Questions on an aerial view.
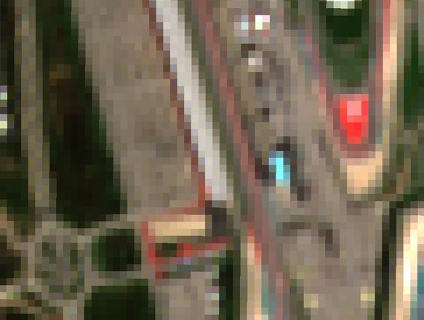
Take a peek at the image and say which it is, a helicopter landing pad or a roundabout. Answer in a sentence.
The one in the frame is a roundabout.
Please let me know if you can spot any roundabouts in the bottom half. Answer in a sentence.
Yes, a roundabout is visible in the bottom half.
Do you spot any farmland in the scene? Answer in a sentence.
Yes, some farmland is visible.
